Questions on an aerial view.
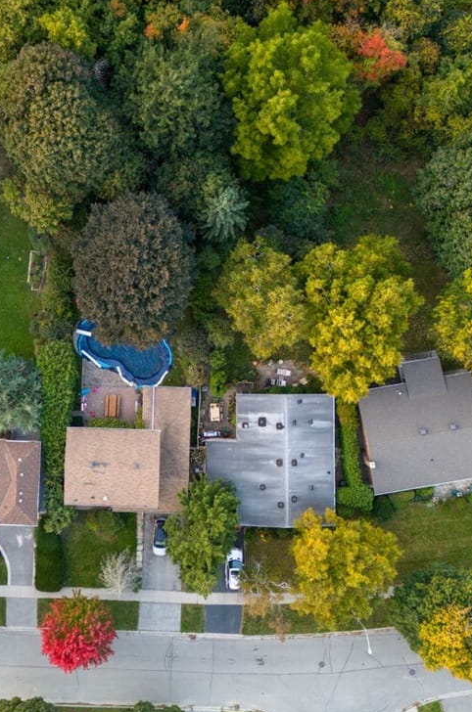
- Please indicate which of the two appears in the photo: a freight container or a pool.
pool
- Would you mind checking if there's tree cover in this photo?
Yes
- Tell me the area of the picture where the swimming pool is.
left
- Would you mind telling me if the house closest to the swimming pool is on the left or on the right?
left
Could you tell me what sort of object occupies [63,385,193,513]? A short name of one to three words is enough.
house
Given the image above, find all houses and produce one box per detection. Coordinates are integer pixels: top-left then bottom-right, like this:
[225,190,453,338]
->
[203,392,336,529]
[0,439,41,526]
[351,351,472,495]
[63,385,193,513]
